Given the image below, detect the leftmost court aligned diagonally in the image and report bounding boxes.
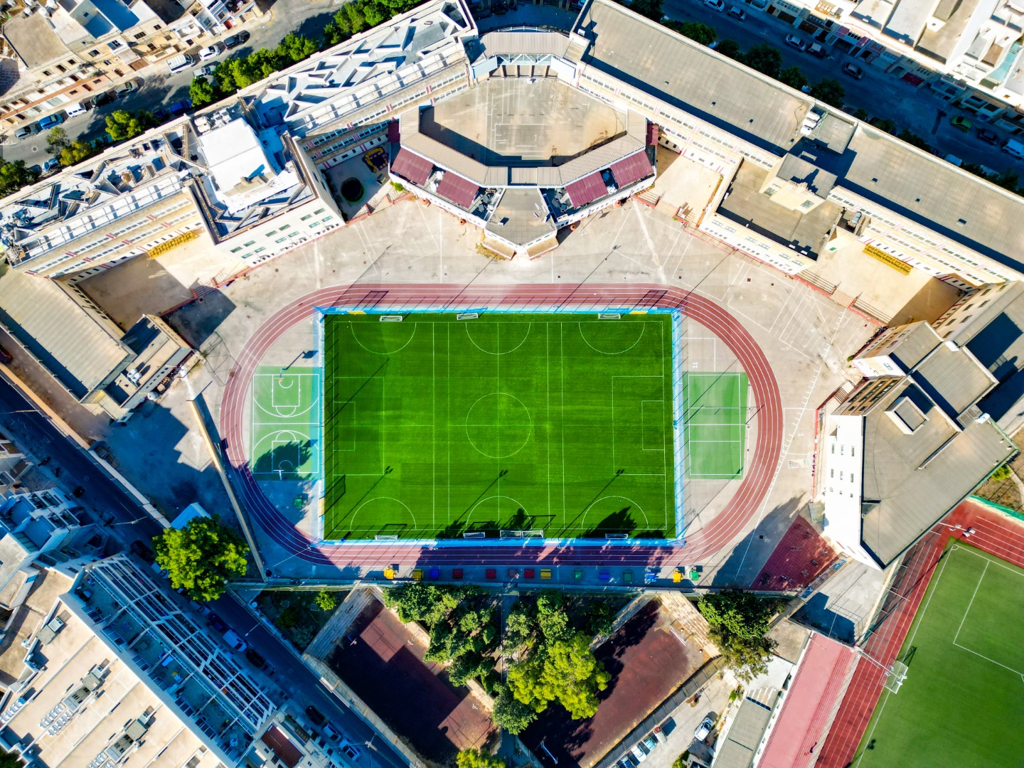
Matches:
[327,596,500,768]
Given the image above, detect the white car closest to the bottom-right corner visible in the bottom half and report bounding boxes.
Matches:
[694,715,716,742]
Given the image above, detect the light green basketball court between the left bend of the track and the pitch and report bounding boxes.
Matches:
[252,367,319,480]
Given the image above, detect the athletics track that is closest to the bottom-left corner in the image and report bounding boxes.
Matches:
[222,284,784,566]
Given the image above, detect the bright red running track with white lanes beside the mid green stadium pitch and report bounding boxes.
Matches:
[815,499,1024,768]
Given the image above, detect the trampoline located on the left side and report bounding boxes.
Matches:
[340,177,363,201]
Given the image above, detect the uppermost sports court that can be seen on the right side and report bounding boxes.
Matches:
[684,372,748,480]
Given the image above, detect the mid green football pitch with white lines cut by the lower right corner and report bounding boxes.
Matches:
[849,538,1024,768]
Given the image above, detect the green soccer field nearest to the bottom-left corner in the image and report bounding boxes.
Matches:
[317,307,684,546]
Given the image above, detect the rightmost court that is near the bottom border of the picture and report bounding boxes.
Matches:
[518,601,709,768]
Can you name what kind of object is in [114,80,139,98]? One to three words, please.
car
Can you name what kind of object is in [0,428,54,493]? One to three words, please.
house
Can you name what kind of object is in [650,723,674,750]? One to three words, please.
truck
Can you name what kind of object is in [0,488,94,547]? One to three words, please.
building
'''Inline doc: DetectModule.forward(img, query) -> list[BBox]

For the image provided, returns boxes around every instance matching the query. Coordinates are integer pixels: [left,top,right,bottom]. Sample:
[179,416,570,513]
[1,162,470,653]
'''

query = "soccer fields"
[849,538,1024,768]
[317,307,684,546]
